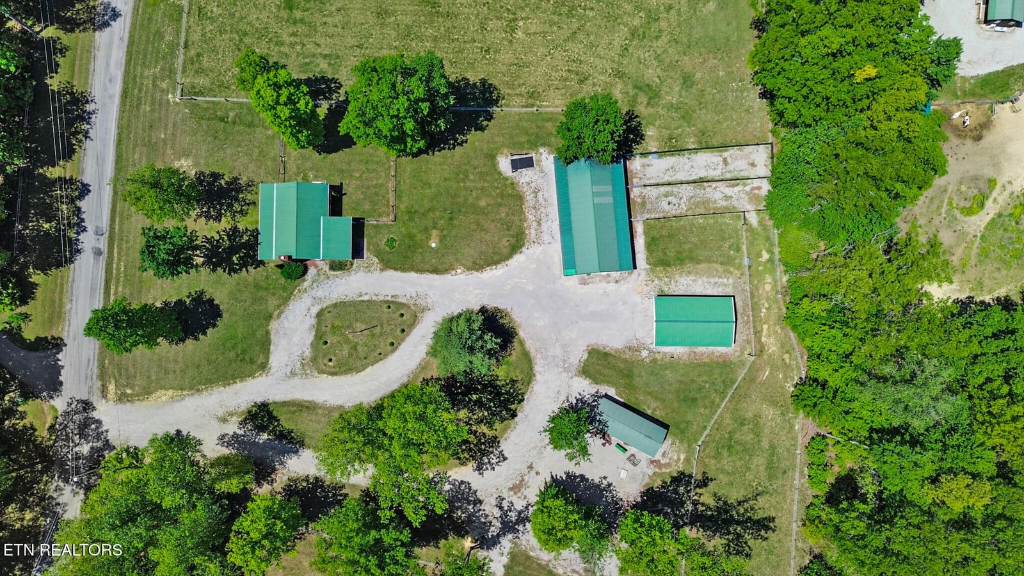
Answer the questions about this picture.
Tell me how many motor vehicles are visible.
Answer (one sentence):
I count no motor vehicles.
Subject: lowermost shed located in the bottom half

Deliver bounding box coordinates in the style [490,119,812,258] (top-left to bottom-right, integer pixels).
[588,398,668,457]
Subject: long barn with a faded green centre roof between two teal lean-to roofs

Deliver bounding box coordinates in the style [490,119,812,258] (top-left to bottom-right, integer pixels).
[554,150,633,276]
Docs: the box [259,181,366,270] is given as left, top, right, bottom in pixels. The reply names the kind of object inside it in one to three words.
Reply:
building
